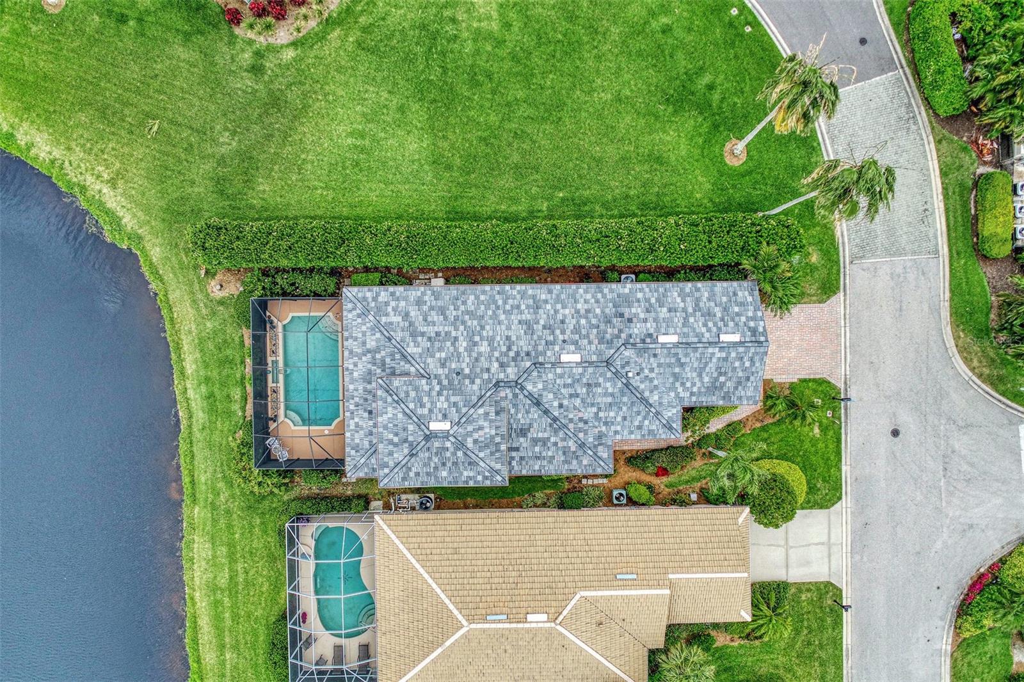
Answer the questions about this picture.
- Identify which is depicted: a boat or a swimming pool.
swimming pool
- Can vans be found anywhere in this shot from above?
No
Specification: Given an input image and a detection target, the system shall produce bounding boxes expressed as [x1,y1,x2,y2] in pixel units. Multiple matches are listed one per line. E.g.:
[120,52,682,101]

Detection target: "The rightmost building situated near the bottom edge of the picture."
[372,505,753,682]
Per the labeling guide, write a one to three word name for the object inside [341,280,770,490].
house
